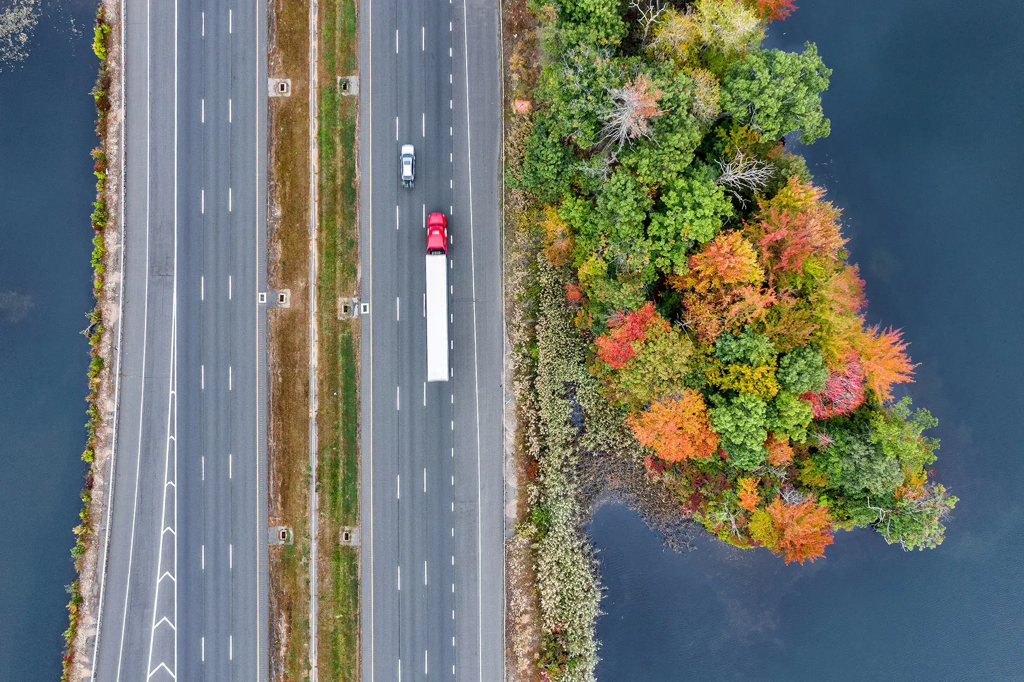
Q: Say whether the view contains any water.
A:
Yes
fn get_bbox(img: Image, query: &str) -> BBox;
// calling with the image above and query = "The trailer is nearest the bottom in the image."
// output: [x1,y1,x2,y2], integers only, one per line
[427,255,450,382]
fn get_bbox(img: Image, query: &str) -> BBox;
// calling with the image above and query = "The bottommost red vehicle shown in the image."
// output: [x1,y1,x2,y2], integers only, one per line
[428,213,449,255]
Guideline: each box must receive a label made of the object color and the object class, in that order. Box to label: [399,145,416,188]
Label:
white car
